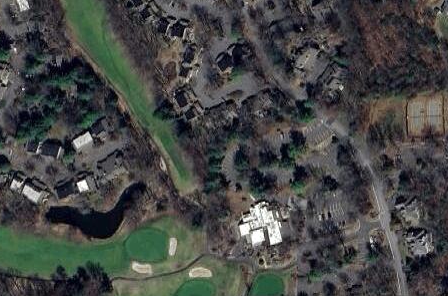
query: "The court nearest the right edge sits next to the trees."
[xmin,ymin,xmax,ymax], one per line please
[427,97,444,136]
